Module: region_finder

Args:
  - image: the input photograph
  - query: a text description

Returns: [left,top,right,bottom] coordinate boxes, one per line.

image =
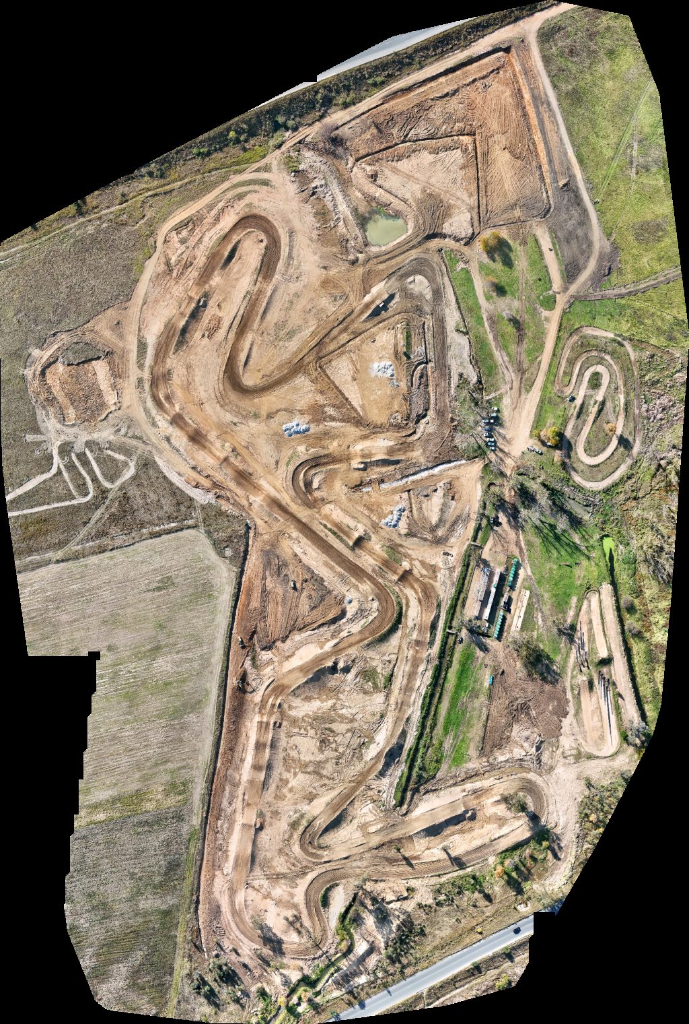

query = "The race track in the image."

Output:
[148,211,553,962]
